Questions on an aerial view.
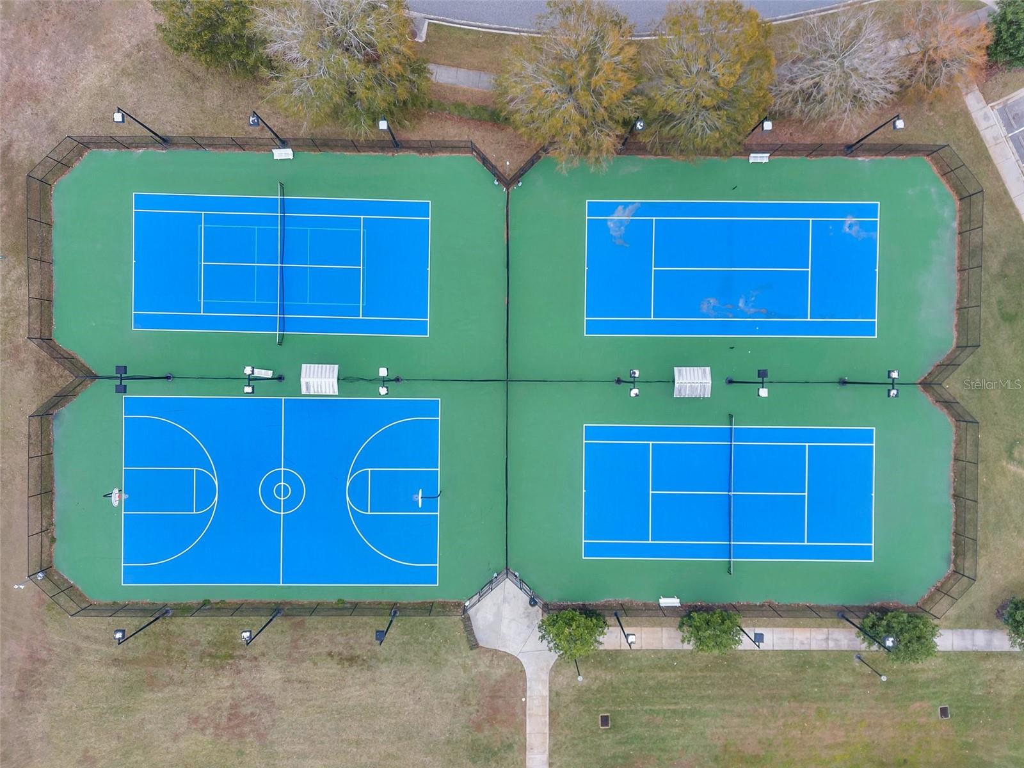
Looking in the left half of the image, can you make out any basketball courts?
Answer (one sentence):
Yes, a basketball court shows up in the left half of the image.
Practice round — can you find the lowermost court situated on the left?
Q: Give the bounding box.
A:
[51,378,507,603]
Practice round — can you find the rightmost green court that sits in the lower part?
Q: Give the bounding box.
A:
[508,381,957,606]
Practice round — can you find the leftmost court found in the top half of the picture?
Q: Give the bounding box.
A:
[51,150,507,380]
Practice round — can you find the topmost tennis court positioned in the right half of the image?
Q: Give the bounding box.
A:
[507,156,959,383]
